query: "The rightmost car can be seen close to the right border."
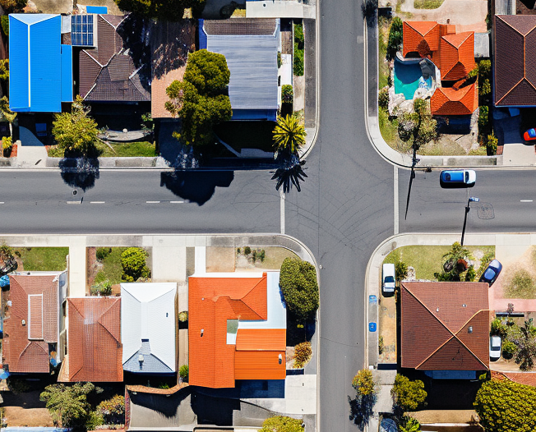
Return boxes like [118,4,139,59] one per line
[521,126,536,142]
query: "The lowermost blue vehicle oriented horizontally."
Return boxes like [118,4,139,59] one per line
[440,169,475,186]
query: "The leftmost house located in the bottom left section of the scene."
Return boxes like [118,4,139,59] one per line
[1,275,63,373]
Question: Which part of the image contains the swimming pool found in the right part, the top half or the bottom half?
top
